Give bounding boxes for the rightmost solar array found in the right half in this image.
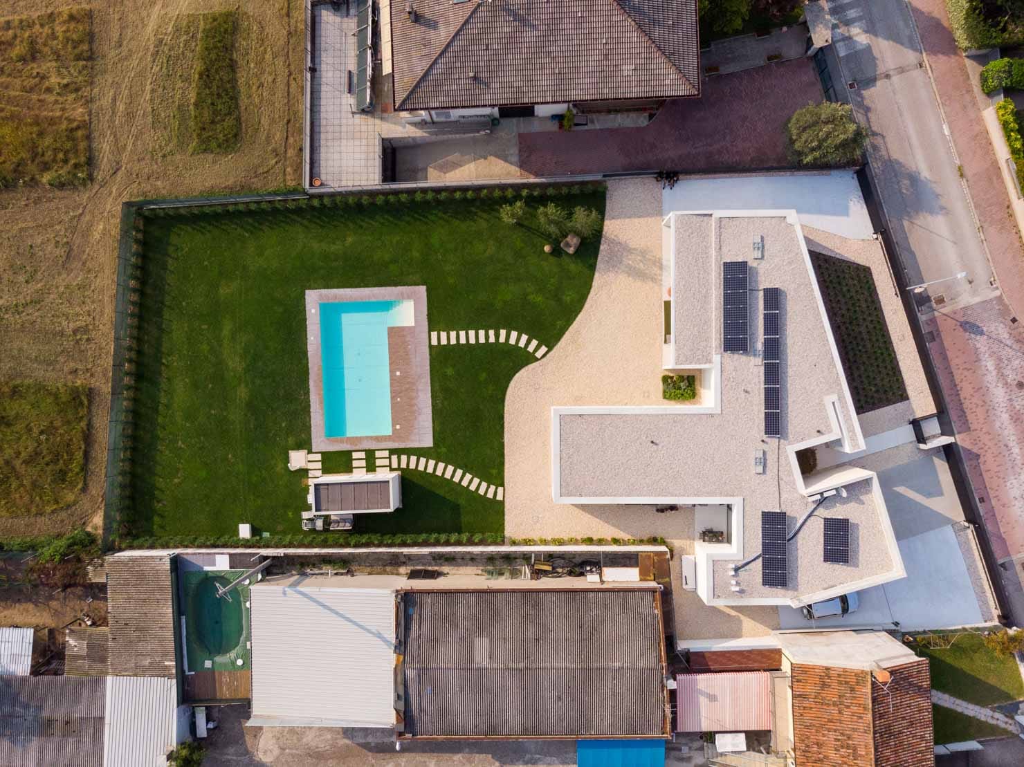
[823,516,849,564]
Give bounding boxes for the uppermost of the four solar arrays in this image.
[724,261,749,353]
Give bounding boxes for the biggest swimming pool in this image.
[320,299,414,438]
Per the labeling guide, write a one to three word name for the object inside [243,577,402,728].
shed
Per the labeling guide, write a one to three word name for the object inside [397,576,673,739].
shed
